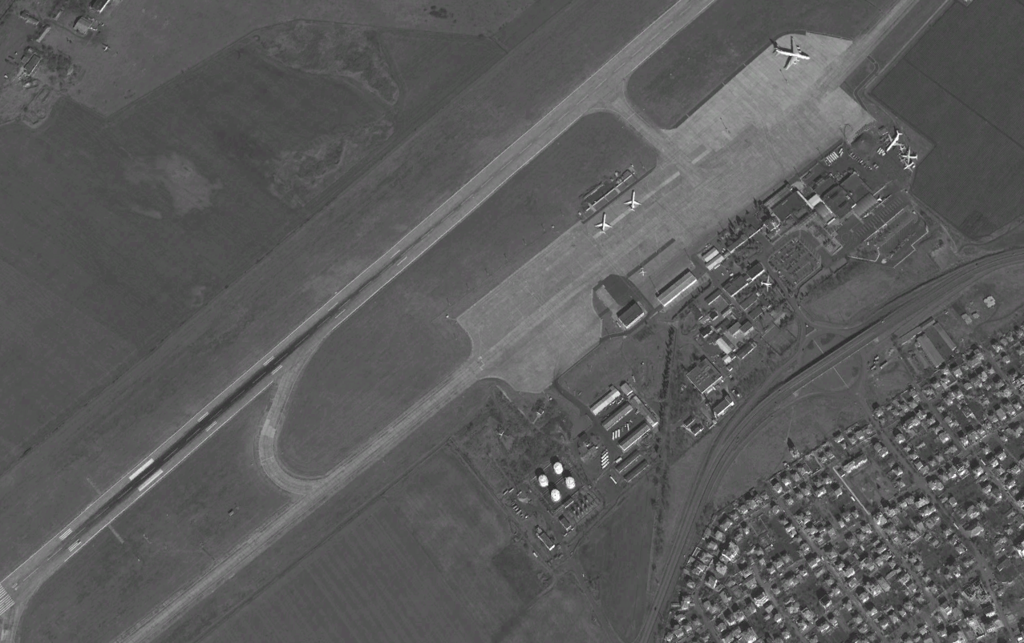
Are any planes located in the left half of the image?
No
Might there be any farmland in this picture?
Yes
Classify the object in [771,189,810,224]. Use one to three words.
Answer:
building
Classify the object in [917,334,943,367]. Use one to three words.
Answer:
shed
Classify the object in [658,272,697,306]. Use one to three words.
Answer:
hangar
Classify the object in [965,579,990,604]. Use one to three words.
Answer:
building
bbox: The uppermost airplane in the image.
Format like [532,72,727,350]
[773,38,810,67]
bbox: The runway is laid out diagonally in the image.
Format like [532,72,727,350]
[0,0,718,617]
